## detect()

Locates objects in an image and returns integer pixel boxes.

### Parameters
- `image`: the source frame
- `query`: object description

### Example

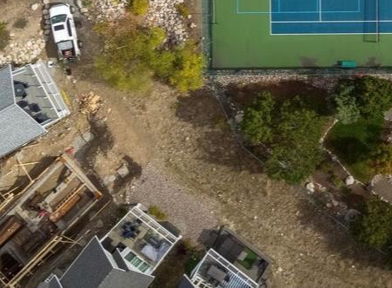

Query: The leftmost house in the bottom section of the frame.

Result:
[42,198,190,288]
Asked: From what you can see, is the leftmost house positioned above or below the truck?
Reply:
below it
